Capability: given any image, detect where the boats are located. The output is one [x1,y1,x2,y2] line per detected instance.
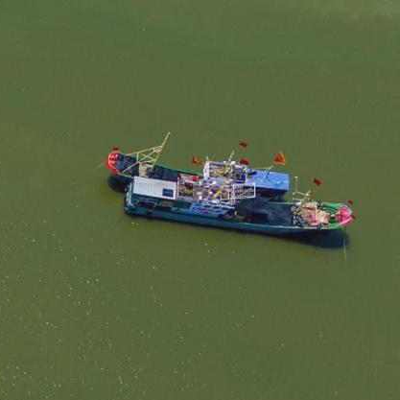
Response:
[73,131,291,199]
[126,169,354,257]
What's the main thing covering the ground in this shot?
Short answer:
water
